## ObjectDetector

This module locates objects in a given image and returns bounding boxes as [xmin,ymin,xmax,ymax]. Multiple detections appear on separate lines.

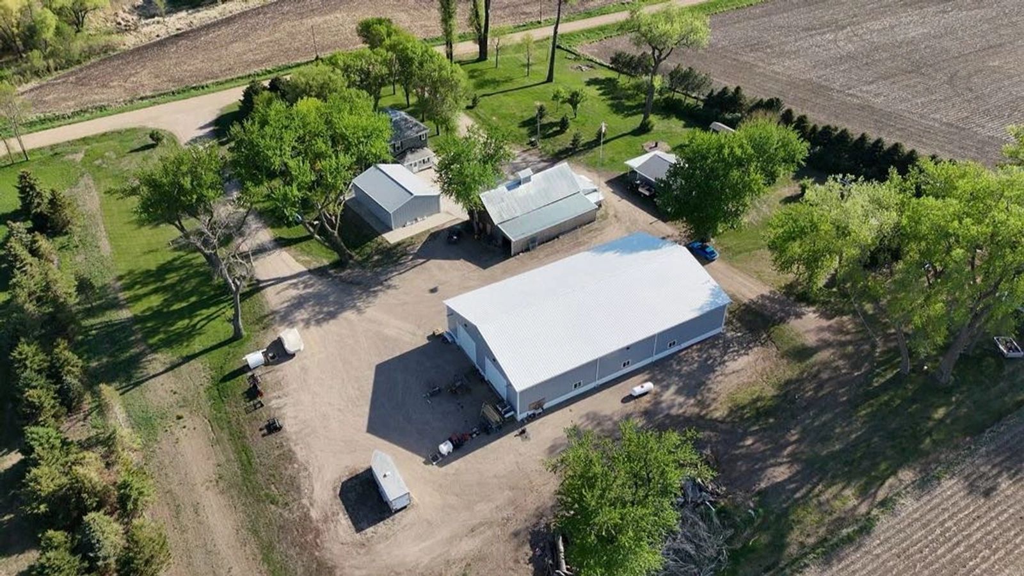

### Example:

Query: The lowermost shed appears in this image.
[442,231,733,423]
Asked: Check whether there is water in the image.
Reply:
No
